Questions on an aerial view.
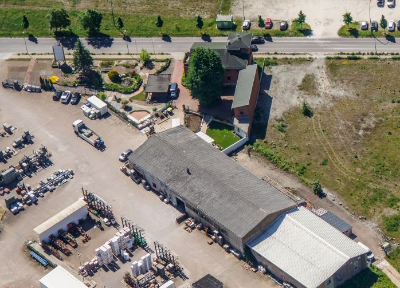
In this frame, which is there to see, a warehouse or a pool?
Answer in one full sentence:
It is a warehouse that can be seen here.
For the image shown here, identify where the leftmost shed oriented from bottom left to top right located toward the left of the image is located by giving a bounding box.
[31,199,89,247]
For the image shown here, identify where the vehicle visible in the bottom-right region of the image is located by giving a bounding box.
[358,239,376,260]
